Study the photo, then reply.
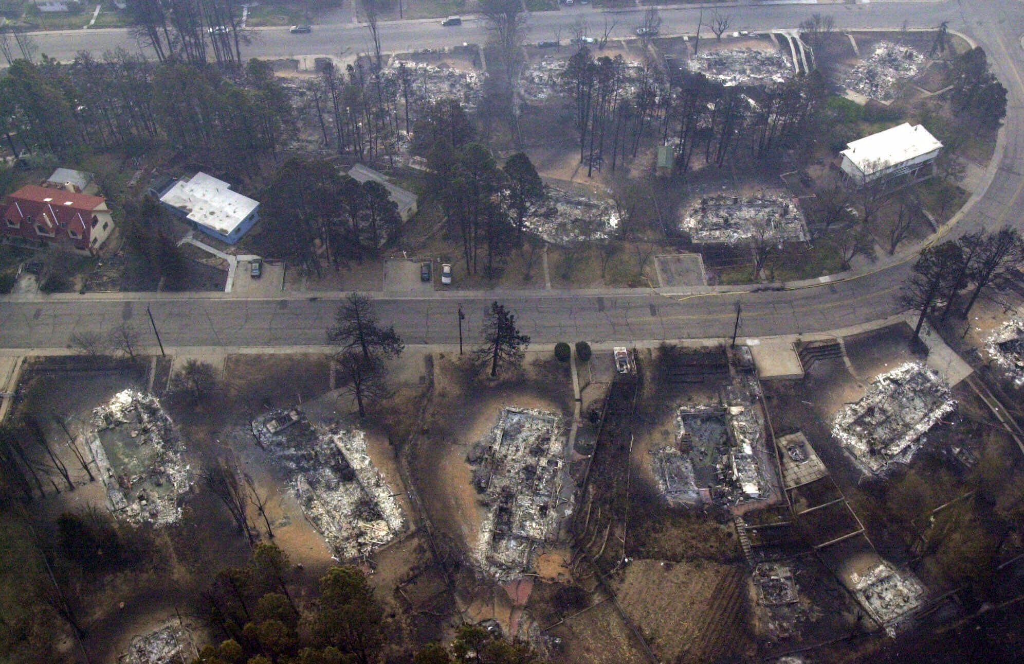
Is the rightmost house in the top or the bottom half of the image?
top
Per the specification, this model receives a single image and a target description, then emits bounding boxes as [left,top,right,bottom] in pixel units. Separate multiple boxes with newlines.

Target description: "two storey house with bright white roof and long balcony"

[837,123,944,197]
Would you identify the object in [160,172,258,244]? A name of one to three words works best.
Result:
house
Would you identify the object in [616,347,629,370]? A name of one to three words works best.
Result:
vehicle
